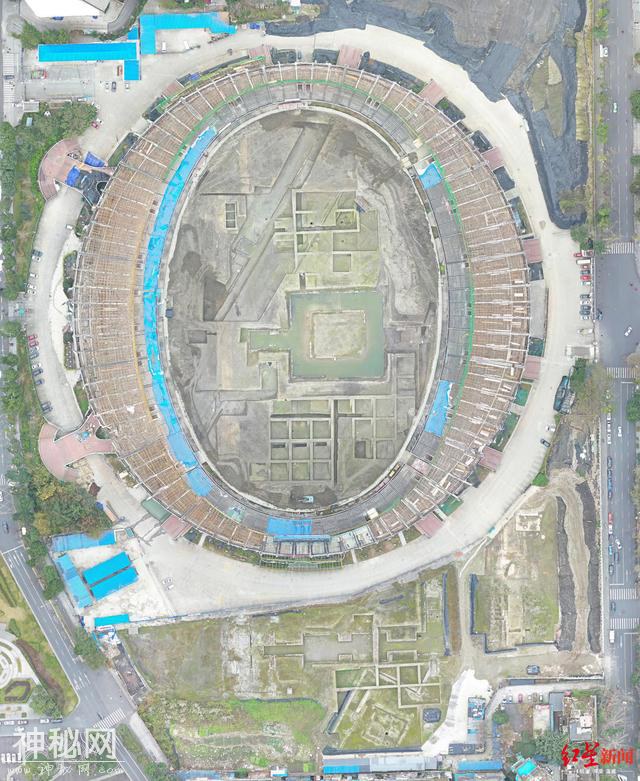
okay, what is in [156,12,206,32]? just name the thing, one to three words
shed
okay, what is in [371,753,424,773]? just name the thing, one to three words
building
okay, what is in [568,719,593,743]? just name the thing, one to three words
building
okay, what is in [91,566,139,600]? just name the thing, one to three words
shed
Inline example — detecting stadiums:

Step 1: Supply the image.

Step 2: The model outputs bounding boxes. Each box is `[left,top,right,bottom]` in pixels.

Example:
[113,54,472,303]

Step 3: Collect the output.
[72,46,545,563]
